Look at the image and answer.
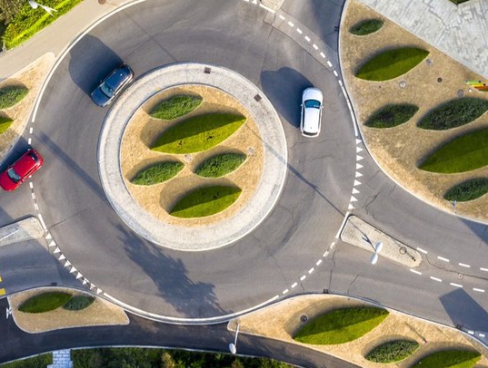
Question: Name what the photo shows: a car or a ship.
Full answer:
The one in the frame is a car.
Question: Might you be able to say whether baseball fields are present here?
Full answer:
No, I find no baseball field anywhere in the image.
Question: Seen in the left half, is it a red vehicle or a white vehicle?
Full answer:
What appears in the left half is a red vehicle.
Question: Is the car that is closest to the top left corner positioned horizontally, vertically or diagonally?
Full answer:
What the image shows is the car that is closest to the top left corner lying diagonally.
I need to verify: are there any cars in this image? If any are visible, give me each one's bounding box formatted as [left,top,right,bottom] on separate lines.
[0,147,46,191]
[91,62,137,107]
[299,88,325,137]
